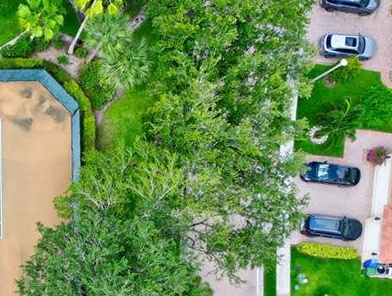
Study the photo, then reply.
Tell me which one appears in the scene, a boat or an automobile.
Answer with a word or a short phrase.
automobile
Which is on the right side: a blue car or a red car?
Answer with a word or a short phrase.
blue car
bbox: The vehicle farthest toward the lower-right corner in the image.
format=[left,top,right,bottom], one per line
[300,214,361,241]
